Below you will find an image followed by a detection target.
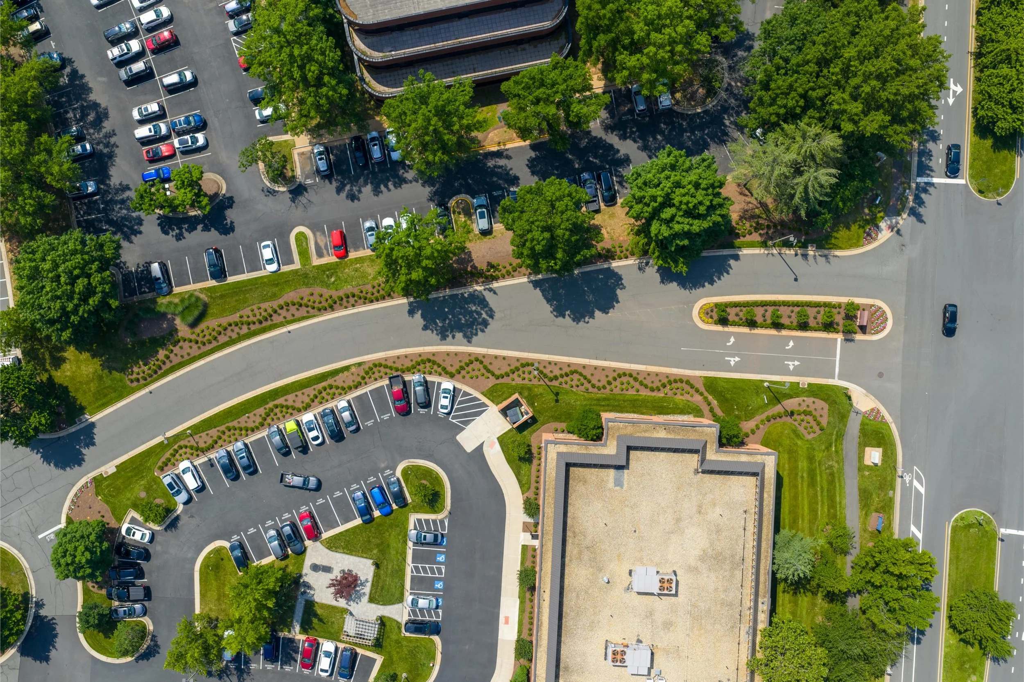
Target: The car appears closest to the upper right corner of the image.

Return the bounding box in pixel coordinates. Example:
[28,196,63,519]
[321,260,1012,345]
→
[944,143,961,178]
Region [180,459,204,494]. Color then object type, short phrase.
white car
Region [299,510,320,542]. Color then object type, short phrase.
red car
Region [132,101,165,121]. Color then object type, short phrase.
white car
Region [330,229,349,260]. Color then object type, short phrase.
red car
